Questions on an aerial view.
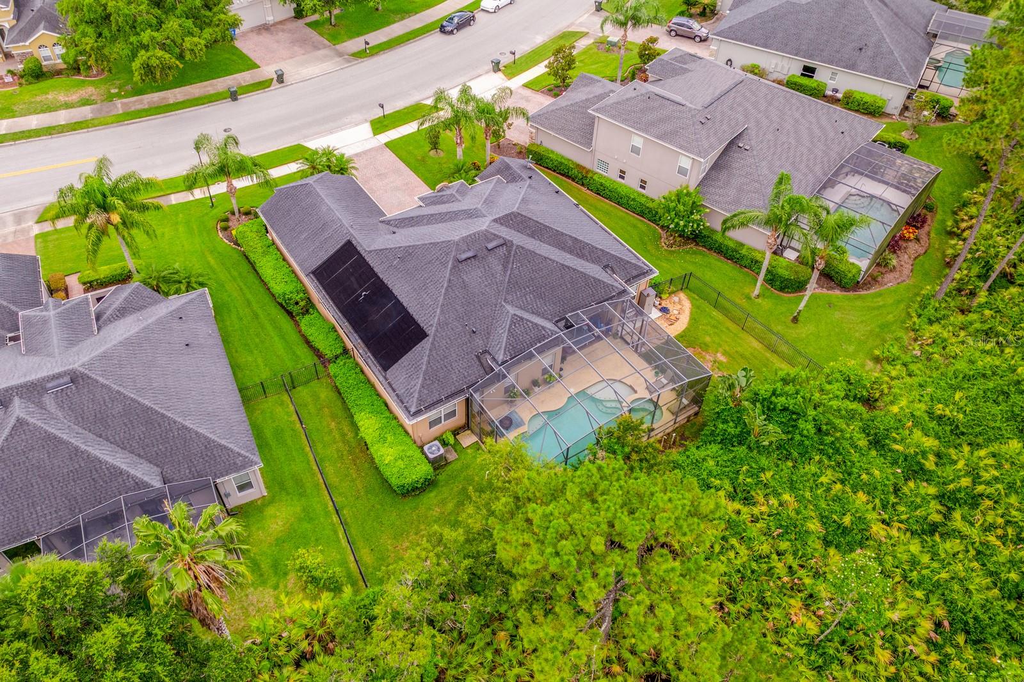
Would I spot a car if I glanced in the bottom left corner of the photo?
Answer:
No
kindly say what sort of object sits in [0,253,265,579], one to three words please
house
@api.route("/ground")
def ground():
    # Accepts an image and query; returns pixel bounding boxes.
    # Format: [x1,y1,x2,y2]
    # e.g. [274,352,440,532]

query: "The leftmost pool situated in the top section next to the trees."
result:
[830,188,905,253]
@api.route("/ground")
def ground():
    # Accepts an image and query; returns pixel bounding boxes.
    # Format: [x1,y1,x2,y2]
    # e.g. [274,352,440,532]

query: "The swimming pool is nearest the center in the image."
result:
[517,370,671,485]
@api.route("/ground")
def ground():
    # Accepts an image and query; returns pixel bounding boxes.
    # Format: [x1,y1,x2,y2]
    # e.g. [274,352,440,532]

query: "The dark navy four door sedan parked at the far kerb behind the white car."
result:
[436,9,479,36]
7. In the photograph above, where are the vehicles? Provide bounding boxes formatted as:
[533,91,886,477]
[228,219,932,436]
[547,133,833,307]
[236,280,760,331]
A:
[479,0,519,13]
[665,12,713,41]
[436,9,479,36]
